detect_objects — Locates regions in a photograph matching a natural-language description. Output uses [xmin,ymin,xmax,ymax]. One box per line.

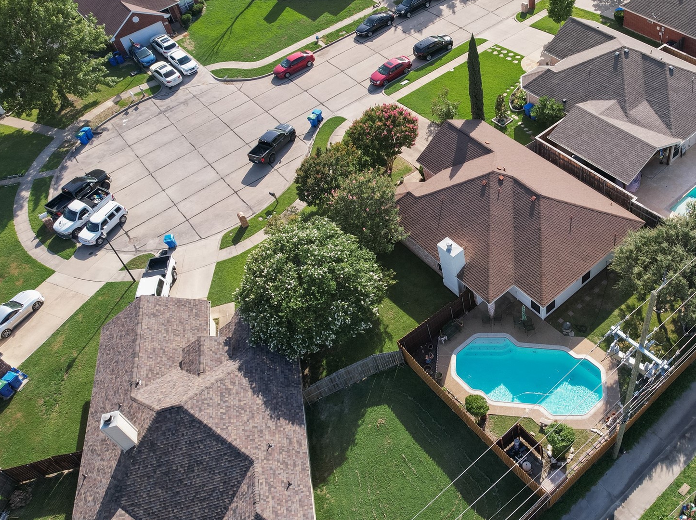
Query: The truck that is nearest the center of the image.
[246,122,298,167]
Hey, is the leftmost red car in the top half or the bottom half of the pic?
top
